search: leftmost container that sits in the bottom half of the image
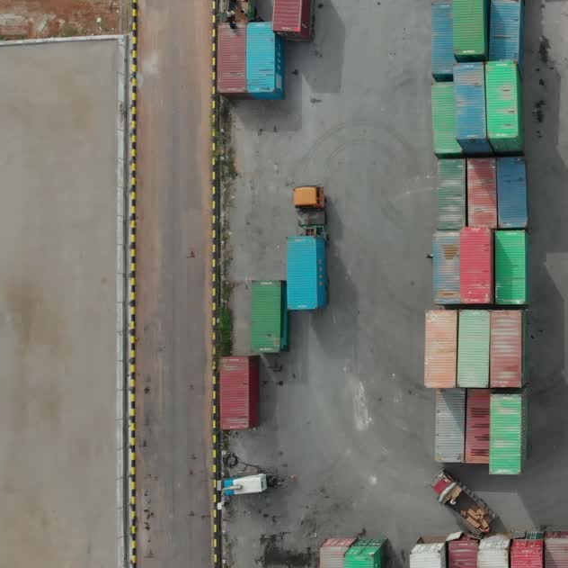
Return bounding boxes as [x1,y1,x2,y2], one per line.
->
[220,355,260,429]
